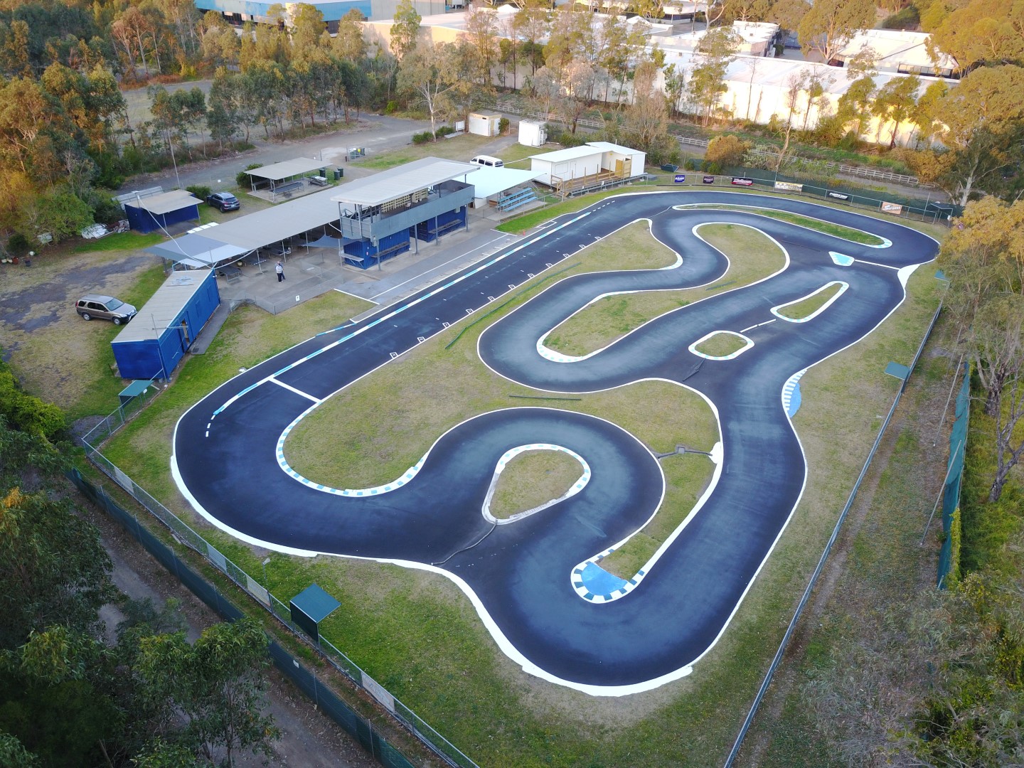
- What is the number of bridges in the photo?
zero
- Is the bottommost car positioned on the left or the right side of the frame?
left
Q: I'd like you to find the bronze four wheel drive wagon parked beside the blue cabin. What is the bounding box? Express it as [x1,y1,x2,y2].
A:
[72,291,139,326]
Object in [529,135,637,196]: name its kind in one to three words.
building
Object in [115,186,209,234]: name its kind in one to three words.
shed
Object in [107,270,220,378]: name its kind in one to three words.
building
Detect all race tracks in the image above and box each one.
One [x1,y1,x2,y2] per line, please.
[175,191,940,685]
